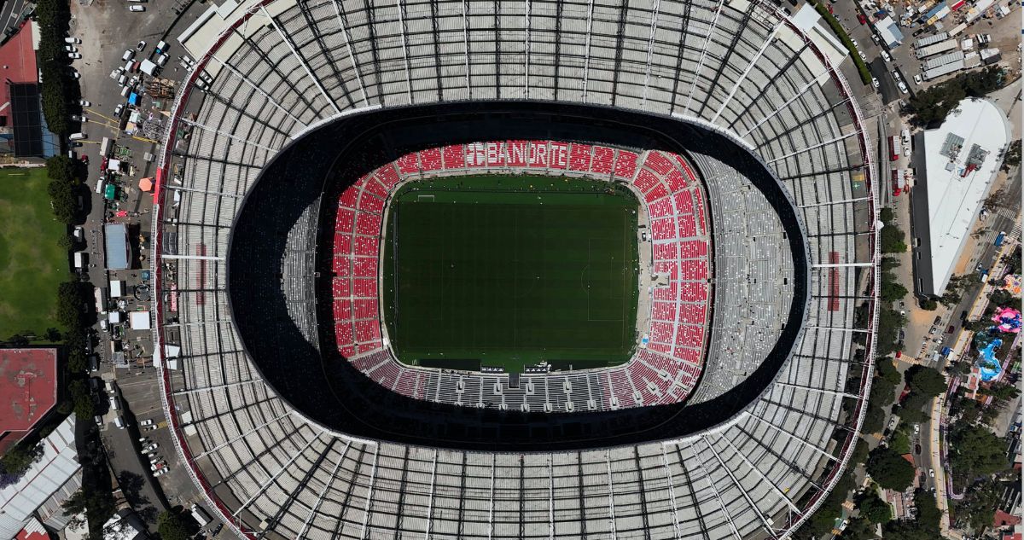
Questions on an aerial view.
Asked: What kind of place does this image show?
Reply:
sports ground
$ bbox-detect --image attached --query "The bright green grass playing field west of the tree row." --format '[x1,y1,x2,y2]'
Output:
[0,166,66,339]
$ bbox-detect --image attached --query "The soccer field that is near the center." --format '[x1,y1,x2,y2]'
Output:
[385,174,639,372]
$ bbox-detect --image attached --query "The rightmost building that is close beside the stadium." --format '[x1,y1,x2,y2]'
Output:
[913,97,1010,297]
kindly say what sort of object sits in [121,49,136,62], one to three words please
vehicle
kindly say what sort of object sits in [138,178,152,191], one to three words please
umbrella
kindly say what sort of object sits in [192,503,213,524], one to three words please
truck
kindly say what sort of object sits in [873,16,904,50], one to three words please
shed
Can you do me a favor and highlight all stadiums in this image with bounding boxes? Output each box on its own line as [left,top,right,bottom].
[149,0,882,540]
